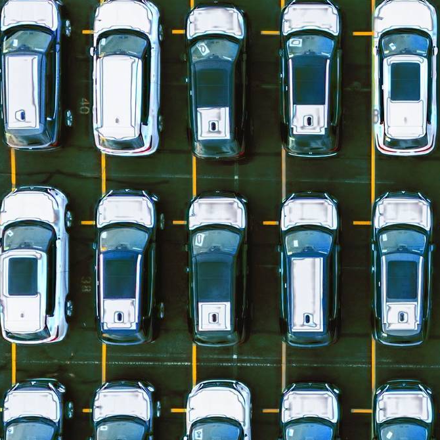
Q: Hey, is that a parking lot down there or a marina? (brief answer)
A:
parking lot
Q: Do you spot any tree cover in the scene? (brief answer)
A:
No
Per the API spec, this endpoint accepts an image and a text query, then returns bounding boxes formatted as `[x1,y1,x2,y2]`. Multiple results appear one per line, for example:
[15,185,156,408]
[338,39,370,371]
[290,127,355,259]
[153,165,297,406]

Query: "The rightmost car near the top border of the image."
[372,0,438,155]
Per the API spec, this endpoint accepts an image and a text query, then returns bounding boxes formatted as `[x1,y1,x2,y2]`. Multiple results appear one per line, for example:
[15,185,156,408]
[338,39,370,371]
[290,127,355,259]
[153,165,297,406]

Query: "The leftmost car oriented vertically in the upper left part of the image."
[0,0,72,151]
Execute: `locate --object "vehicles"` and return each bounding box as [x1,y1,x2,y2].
[276,382,343,440]
[183,381,252,440]
[92,189,164,346]
[183,2,252,160]
[0,0,72,151]
[277,0,344,156]
[370,190,436,348]
[184,190,253,347]
[0,187,73,345]
[0,379,72,440]
[371,381,437,440]
[276,190,343,348]
[372,0,438,155]
[91,0,165,155]
[88,381,160,440]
